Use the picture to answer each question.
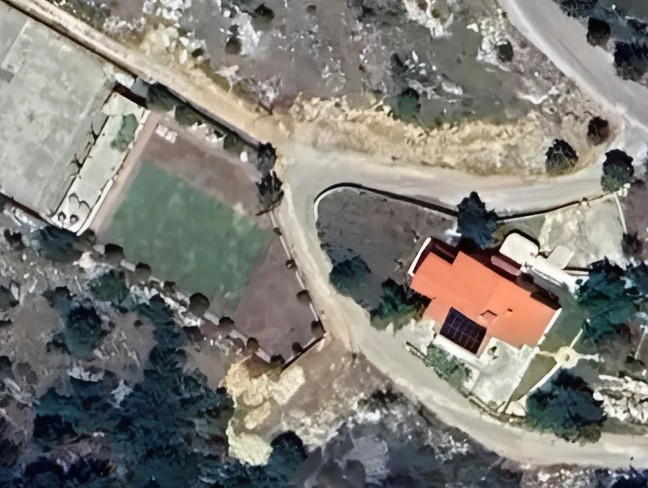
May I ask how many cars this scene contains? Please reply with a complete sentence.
The picture shows no cars.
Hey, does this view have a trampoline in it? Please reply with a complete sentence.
No, the photo shows no trampoline.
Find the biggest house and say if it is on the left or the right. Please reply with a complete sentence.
You can find the biggest house on the right side of the picture.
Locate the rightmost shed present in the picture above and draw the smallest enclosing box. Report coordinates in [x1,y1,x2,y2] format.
[548,245,574,268]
